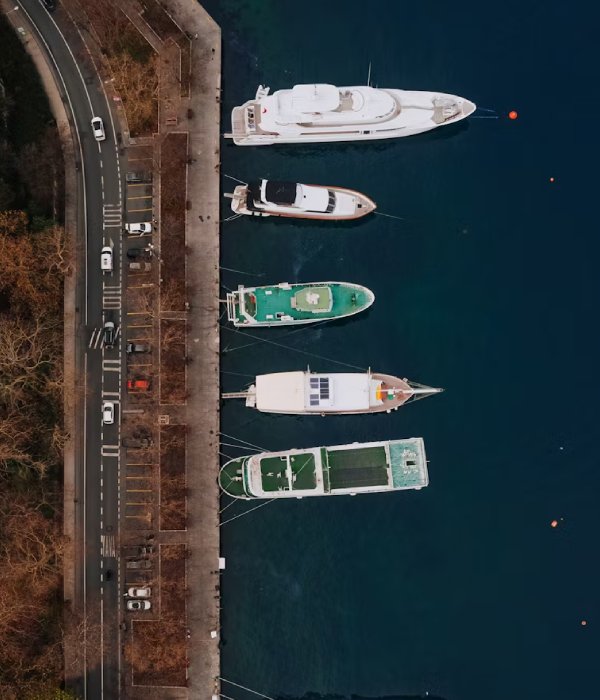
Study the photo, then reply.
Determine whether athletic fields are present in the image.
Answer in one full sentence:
No, there is no athletic field in the image.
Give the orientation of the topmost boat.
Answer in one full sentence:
From this overhead view, the topmost boat appears to run horizontally.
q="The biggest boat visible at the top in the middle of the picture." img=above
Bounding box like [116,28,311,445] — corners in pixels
[224,60,476,148]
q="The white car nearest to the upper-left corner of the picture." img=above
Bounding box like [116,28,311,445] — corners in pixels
[90,115,105,139]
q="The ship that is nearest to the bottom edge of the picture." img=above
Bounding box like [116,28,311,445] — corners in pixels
[219,436,430,501]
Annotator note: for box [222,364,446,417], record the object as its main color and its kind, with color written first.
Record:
white boat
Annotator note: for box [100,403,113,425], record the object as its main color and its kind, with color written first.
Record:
white vehicle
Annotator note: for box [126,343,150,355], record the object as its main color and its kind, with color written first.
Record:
gray vehicle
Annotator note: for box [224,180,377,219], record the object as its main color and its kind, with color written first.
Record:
white boat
